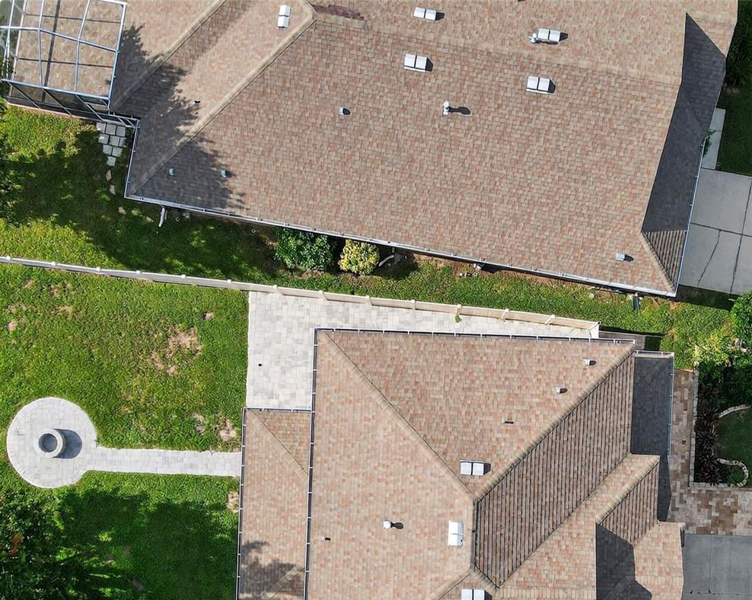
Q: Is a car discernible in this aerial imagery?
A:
No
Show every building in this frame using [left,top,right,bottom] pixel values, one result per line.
[233,325,687,600]
[108,0,742,300]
